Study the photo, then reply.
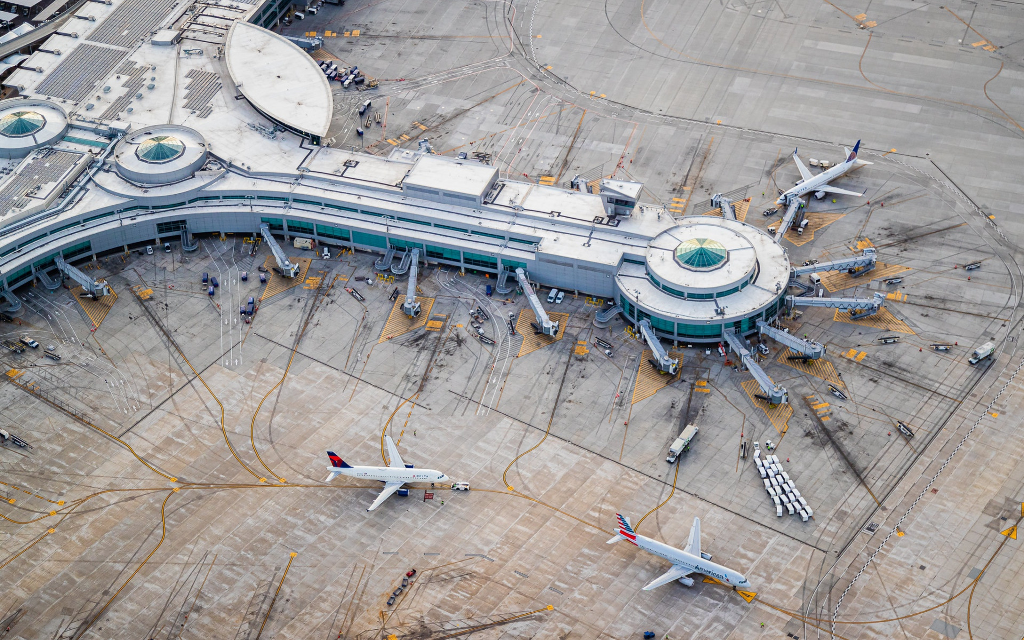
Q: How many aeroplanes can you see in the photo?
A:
three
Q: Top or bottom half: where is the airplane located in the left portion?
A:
bottom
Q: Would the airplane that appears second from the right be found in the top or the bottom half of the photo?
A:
bottom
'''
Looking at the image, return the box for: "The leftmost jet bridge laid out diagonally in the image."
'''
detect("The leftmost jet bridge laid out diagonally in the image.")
[56,261,113,300]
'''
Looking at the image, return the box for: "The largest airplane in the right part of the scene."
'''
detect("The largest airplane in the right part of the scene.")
[607,514,751,591]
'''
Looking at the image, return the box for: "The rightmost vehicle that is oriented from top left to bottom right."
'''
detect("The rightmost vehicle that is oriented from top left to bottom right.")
[897,421,914,436]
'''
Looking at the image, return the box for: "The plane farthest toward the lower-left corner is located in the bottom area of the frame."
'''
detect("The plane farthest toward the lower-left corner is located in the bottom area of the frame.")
[326,434,449,512]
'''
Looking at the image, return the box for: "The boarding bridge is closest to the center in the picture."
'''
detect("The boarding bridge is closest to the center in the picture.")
[514,270,561,338]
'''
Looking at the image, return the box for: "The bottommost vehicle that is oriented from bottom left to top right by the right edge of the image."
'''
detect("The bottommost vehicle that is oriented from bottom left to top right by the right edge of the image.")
[968,343,997,365]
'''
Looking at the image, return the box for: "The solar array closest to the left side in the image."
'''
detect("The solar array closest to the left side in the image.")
[0,149,81,217]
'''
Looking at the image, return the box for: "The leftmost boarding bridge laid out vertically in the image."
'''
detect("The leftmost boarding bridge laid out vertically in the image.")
[401,251,423,318]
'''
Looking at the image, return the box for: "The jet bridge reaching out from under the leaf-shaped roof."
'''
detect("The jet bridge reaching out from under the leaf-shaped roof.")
[271,28,326,53]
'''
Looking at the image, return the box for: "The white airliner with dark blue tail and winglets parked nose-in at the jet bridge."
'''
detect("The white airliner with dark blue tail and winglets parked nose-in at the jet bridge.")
[776,139,873,206]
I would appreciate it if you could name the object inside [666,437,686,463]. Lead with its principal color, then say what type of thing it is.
white vehicle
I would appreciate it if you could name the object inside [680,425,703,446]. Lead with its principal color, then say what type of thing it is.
white truck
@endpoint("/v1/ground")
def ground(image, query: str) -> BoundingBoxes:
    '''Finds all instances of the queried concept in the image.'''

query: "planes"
[776,139,873,206]
[607,514,751,591]
[326,434,449,512]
